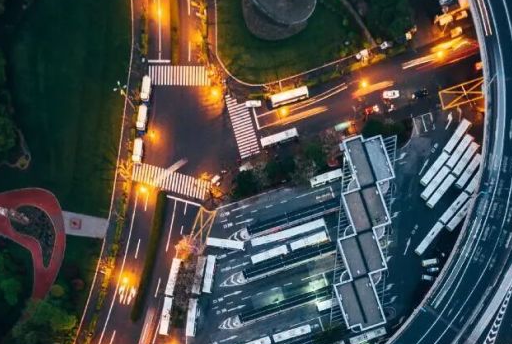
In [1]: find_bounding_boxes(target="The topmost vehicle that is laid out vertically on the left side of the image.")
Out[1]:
[141,73,153,103]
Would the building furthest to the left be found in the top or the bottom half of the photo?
top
